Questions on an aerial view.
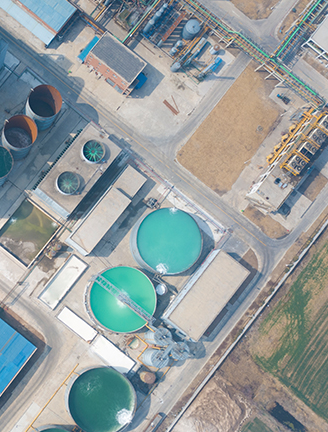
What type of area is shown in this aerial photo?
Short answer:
industrial area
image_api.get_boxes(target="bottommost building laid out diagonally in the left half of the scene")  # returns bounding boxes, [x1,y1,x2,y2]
[68,165,147,256]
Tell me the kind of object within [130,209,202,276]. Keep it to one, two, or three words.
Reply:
storage tank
